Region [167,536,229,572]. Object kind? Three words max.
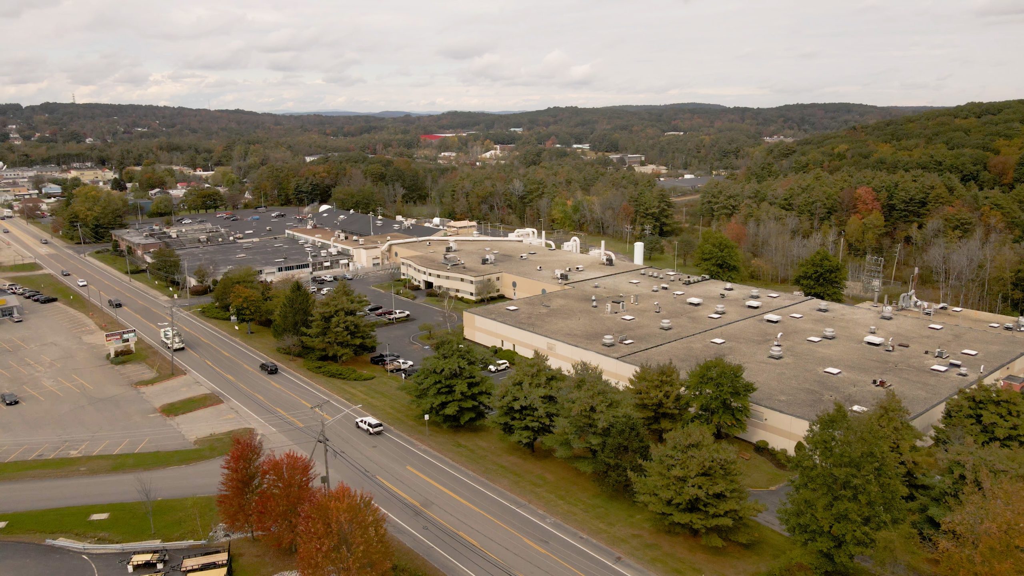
trailer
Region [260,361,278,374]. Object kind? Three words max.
vehicle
